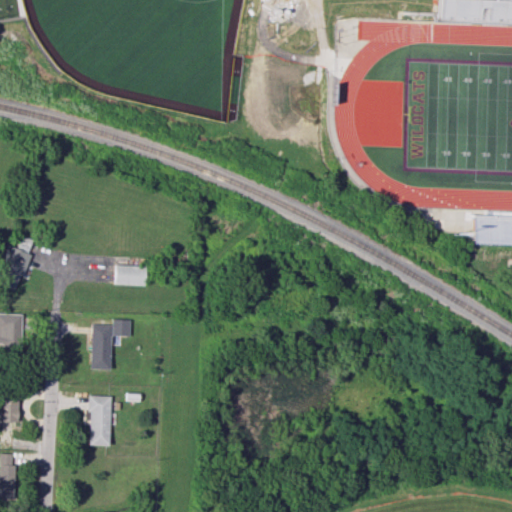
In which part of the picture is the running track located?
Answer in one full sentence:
Look in the top right portion of the view to spot the running track.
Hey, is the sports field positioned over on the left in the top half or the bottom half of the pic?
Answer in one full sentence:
It is in the top half that the sports field positioned over on the left appears.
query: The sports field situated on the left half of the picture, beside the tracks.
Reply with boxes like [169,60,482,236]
[24,0,243,122]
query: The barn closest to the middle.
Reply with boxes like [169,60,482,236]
[114,264,147,288]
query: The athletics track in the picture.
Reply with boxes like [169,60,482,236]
[334,22,512,209]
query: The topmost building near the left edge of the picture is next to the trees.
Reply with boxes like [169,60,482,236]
[4,240,36,291]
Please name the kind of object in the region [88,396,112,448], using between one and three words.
house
